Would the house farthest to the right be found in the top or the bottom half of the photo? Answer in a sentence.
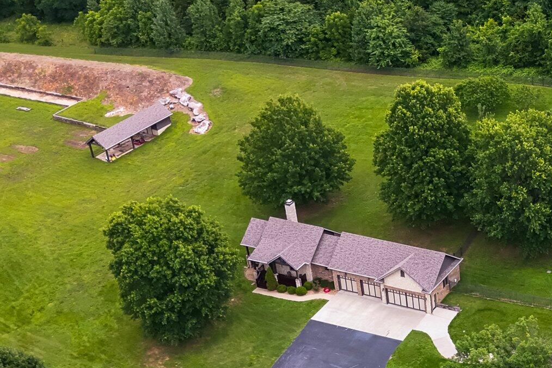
Seen from above, the house farthest to the right lies in the bottom half of the view.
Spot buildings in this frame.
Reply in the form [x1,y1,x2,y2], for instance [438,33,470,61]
[240,194,464,314]
[81,100,172,162]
